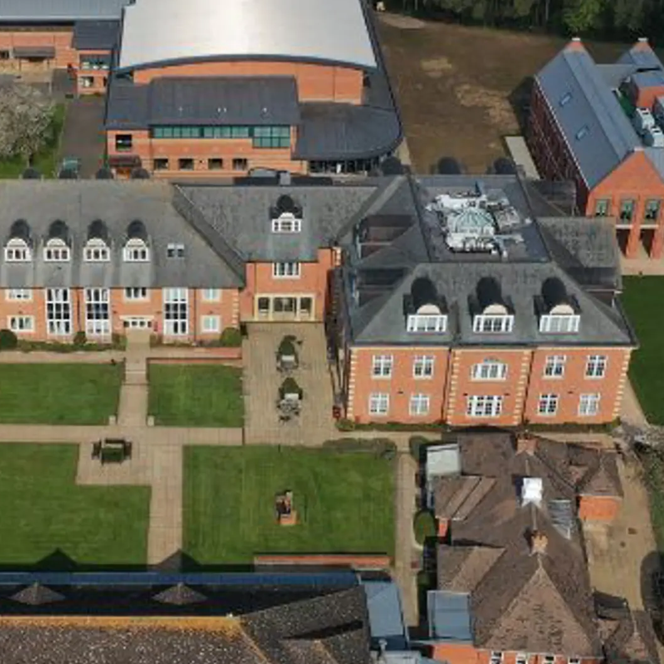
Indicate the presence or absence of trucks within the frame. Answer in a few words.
No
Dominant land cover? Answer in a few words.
buildings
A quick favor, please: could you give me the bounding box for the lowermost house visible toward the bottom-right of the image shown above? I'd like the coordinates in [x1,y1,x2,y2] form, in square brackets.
[414,426,663,664]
